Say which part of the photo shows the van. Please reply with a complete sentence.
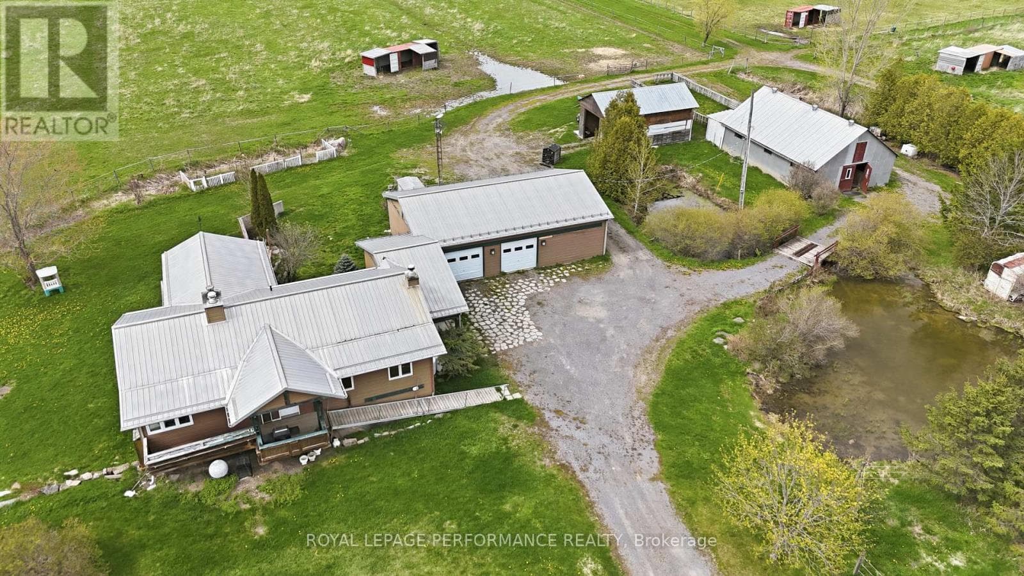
The van sits in the right section of the image.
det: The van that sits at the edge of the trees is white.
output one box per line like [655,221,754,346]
[983,252,1024,298]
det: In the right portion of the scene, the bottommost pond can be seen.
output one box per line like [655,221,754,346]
[755,272,1024,465]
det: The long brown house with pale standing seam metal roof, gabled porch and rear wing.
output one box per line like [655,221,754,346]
[109,228,470,490]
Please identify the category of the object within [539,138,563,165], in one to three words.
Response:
shed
